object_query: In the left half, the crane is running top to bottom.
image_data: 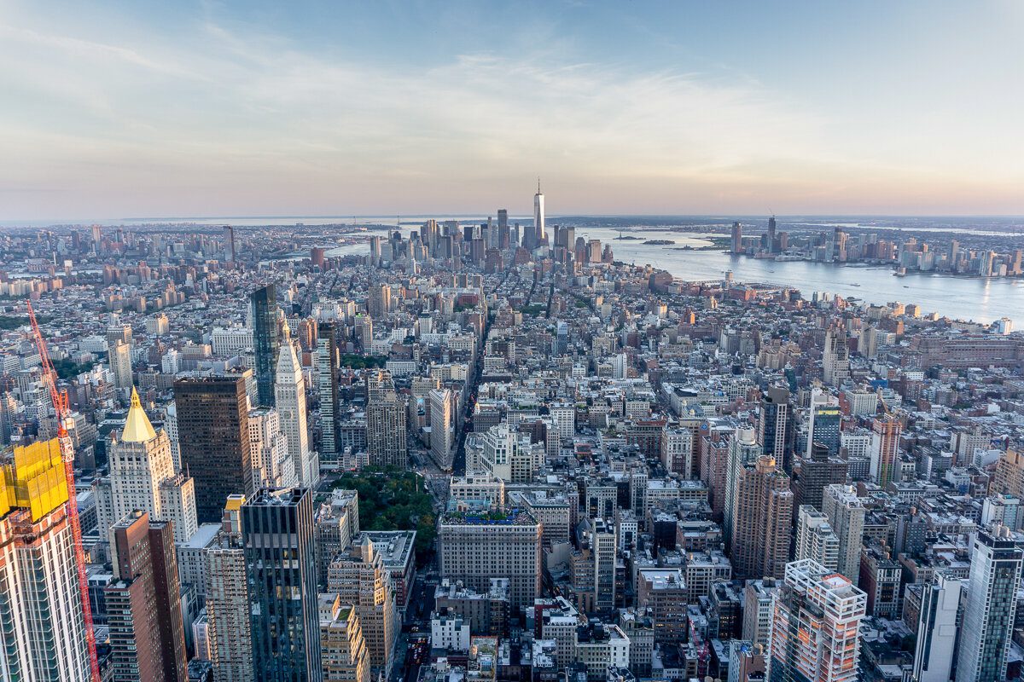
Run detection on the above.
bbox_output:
[25,300,106,682]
